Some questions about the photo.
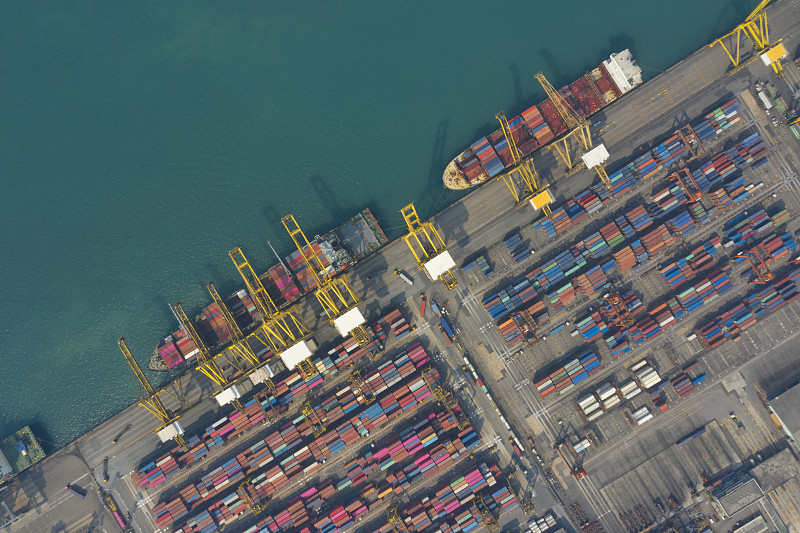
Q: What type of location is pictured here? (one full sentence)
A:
This looks like a port.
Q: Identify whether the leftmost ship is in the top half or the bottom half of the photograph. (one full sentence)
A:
It is in the bottom half that the leftmost ship appears.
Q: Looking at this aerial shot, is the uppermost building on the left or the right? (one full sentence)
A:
The uppermost building appears in the right half of the scene.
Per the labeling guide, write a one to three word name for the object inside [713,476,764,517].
building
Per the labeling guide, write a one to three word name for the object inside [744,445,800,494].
shed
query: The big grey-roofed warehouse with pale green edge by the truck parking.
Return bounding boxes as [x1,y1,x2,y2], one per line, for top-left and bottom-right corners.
[762,379,800,465]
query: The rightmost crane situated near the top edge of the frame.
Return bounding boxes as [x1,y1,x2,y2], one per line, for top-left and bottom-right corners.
[710,0,796,89]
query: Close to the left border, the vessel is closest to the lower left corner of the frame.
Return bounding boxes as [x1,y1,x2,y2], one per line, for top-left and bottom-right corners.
[0,425,101,483]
